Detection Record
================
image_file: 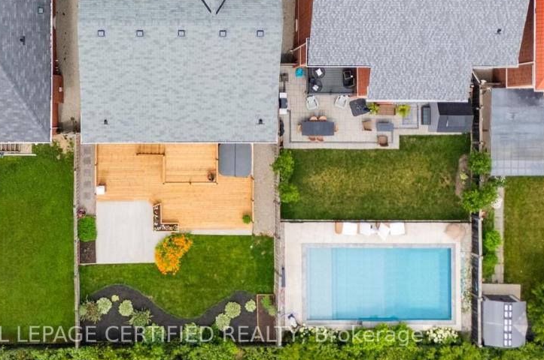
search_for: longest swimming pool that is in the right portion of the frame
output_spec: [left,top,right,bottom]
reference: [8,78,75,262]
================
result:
[302,244,456,325]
